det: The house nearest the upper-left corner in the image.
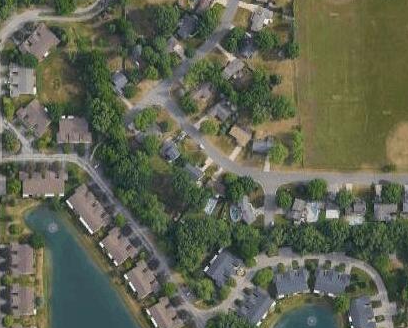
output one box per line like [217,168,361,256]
[20,22,60,62]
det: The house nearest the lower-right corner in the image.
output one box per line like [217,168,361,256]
[348,295,378,328]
